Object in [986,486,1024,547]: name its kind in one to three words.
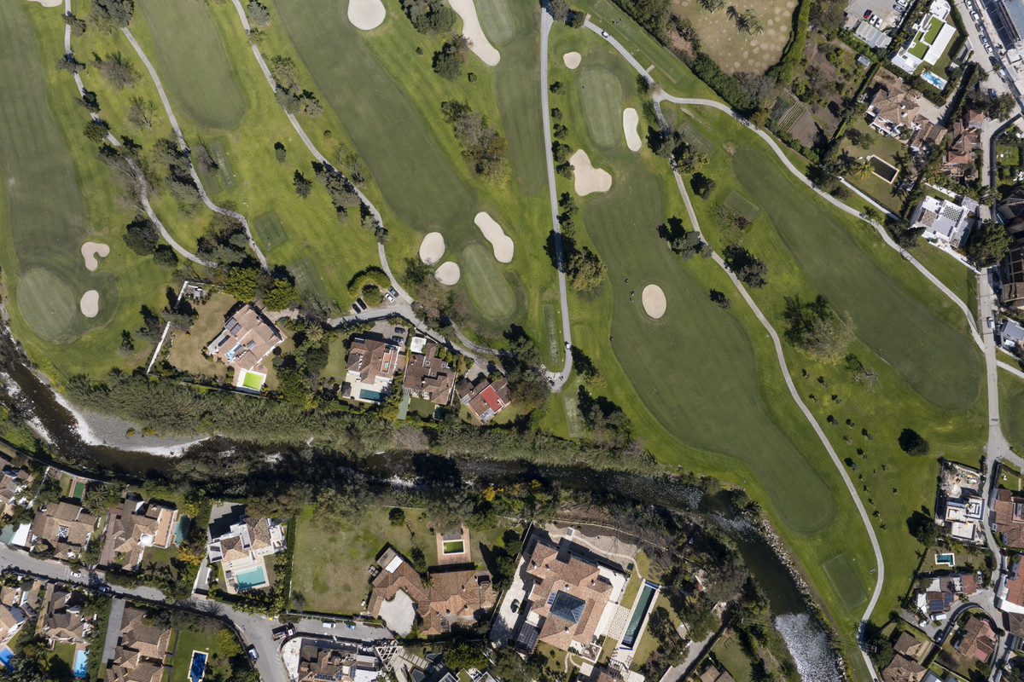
house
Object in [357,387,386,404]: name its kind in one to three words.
swimming pool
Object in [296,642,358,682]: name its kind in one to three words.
house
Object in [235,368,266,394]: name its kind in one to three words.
swimming pool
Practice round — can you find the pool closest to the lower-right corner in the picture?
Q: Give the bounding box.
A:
[935,553,956,567]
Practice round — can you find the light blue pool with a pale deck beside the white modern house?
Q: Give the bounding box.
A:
[921,68,948,89]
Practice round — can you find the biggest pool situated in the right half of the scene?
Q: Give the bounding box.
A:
[616,579,660,653]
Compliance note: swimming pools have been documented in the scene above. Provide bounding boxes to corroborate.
[235,368,266,394]
[72,650,90,678]
[357,387,386,404]
[433,405,443,419]
[69,478,88,501]
[935,553,956,567]
[0,646,14,672]
[921,68,948,89]
[867,154,900,184]
[234,565,266,592]
[442,540,465,555]
[616,579,660,653]
[173,514,192,546]
[187,651,209,682]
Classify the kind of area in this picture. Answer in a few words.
golf course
